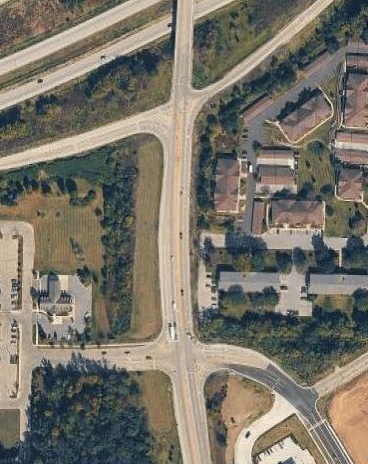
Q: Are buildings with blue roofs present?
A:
No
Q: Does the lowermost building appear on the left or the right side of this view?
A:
left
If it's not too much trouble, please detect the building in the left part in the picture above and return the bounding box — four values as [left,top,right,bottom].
[38,296,72,318]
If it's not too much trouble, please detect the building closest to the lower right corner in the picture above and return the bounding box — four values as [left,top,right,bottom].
[308,274,368,295]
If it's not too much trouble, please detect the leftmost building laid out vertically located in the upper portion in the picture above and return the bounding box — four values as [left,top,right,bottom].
[215,154,241,212]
